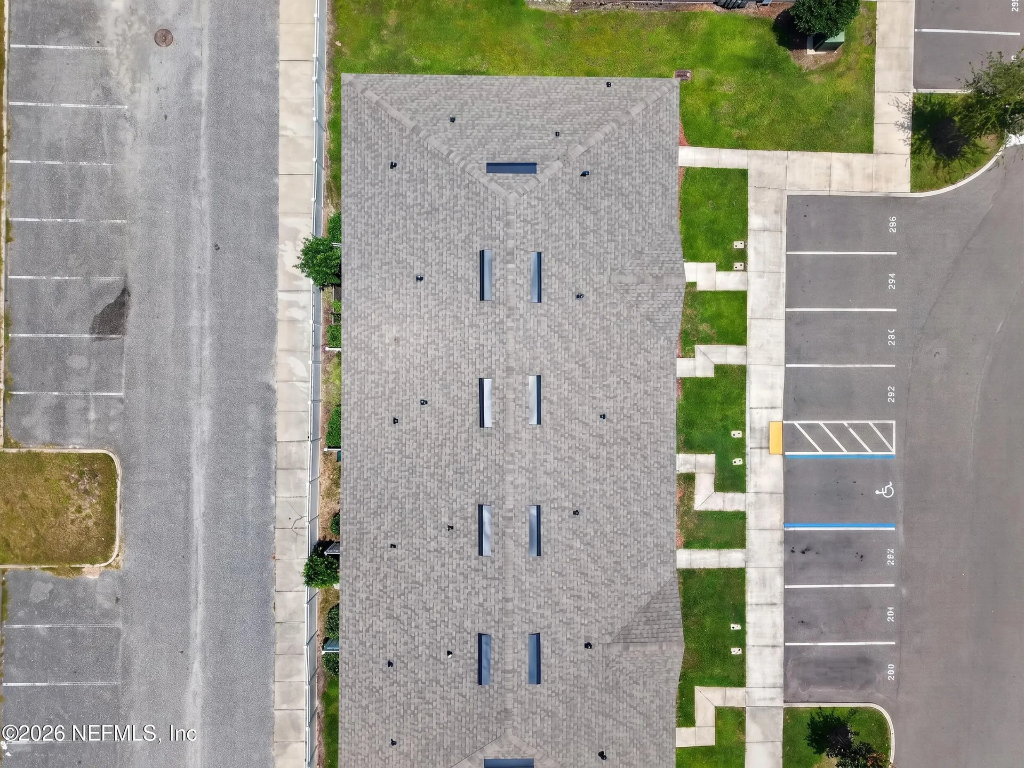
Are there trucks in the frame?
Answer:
No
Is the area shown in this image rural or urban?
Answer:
urban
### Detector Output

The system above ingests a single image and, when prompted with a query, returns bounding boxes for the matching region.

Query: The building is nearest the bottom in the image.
[338,73,685,768]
